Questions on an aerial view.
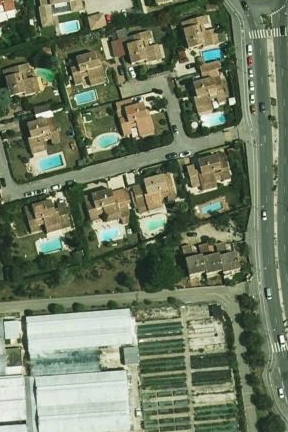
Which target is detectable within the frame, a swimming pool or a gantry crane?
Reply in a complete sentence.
It is a swimming pool that can be seen here.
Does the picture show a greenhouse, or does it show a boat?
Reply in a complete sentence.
I can see a greenhouse in this picture.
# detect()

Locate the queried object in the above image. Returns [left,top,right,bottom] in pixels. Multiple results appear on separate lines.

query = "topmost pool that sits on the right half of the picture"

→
[200,48,222,64]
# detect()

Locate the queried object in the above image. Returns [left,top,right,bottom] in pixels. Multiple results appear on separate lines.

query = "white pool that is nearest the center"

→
[140,214,166,234]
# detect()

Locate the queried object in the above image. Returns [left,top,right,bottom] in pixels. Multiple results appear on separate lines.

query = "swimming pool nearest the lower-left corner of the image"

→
[35,232,63,256]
